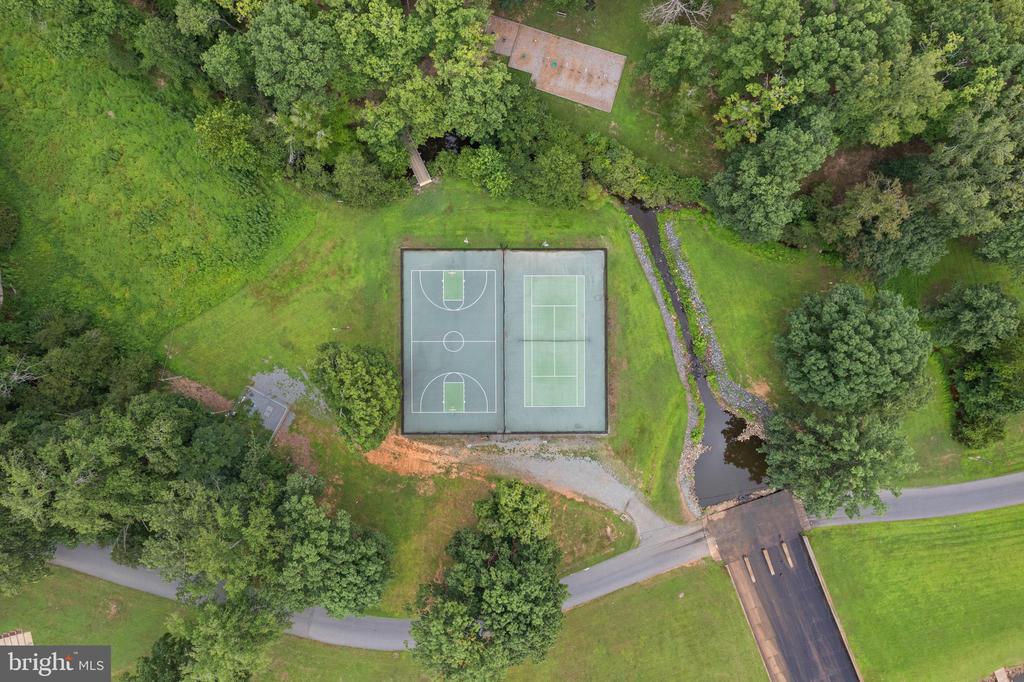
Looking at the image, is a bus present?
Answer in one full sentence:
No, I find no bus anywhere in the image.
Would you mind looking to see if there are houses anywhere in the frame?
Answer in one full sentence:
No, there is no house in the image.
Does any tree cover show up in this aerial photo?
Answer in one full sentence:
Yes, some tree cover is visible.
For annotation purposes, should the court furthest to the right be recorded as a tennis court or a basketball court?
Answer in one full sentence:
The court furthest to the right is a tennis court.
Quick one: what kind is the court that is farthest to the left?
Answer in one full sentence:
What you see as the court that is farthest to the left is a basketball court.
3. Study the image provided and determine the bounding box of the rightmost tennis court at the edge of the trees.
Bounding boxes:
[504,250,606,433]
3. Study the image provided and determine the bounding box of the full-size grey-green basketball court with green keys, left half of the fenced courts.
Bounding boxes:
[403,250,503,433]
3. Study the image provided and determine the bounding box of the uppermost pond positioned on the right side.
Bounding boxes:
[695,394,775,506]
